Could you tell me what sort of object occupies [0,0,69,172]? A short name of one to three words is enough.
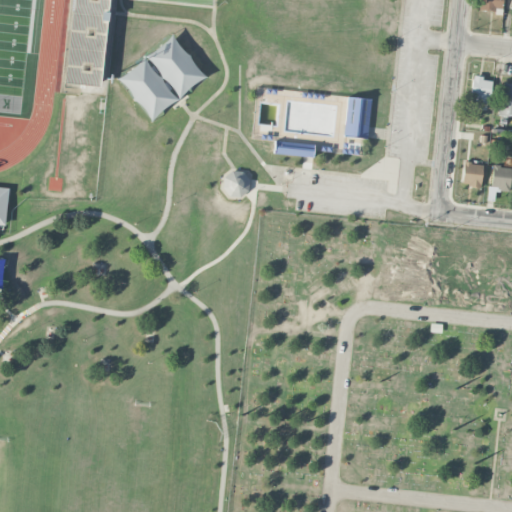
running track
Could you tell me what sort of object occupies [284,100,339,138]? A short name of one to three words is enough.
swimming pool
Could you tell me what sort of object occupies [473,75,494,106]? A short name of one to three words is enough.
house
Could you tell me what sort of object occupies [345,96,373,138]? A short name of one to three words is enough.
building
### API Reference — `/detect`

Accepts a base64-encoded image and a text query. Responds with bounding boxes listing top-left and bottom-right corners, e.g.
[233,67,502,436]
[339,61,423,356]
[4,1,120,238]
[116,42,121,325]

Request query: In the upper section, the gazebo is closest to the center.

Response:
[220,168,253,200]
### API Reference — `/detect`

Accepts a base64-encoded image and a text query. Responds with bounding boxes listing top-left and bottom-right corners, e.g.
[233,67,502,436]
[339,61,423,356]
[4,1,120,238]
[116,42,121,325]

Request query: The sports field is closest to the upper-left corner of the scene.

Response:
[0,0,44,118]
